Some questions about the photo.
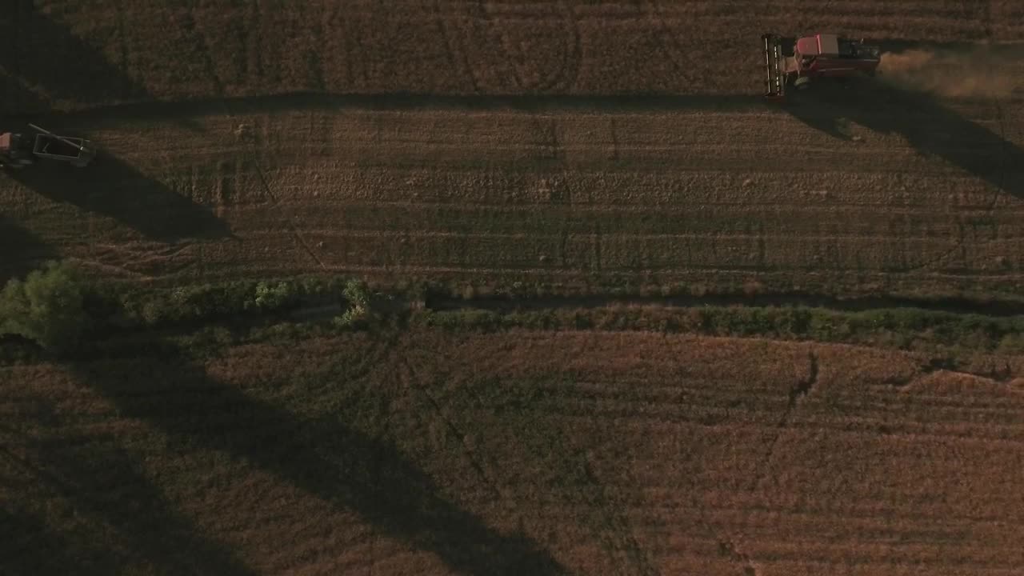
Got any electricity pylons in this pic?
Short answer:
No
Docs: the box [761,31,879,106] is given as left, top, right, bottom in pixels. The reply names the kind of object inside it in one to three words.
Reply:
work vehicle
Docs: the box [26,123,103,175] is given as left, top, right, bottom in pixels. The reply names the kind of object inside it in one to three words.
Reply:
trailer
